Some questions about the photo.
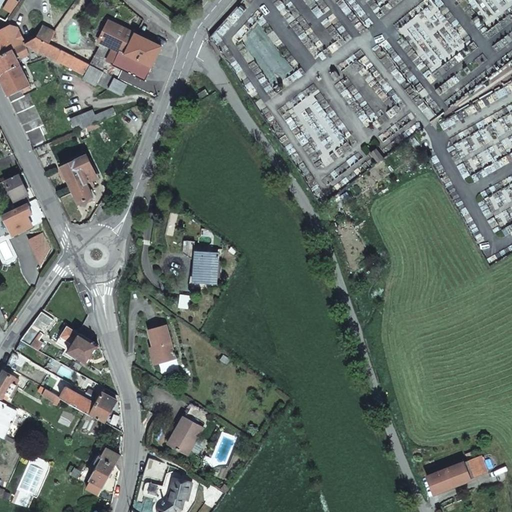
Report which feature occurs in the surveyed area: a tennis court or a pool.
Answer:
pool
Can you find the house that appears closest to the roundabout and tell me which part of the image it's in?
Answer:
left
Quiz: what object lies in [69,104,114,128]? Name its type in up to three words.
shed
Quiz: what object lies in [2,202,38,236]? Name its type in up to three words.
house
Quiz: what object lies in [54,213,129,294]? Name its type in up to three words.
roundabout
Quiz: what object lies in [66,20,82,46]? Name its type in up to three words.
swimming pool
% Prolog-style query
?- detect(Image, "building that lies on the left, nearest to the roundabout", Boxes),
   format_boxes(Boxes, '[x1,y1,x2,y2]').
[28,232,56,267]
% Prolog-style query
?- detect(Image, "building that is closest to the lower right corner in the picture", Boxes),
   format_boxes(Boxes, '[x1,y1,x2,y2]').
[426,456,489,496]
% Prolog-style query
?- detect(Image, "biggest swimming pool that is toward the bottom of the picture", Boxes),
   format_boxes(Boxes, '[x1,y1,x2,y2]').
[204,434,238,468]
